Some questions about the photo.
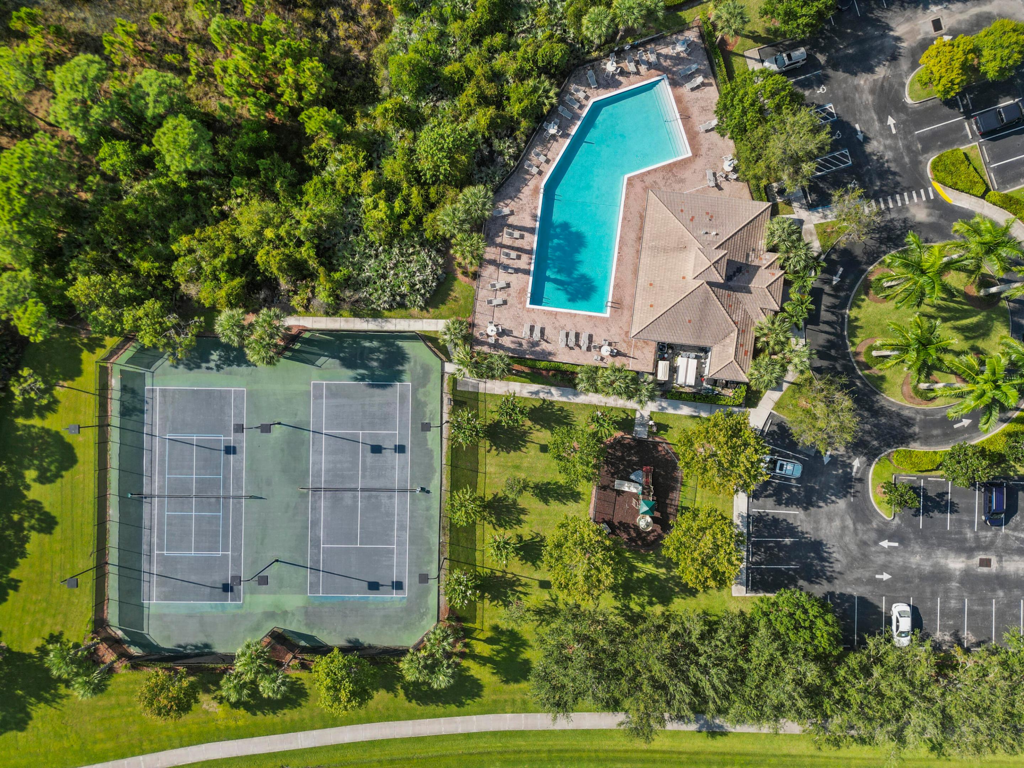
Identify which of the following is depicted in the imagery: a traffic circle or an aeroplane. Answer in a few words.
traffic circle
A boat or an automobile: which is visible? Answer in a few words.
automobile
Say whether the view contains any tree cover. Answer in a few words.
Yes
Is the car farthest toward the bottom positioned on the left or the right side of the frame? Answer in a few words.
right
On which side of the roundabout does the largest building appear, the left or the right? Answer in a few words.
on its left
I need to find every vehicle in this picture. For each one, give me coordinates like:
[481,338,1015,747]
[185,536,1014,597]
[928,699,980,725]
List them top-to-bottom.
[762,45,808,70]
[971,104,1024,136]
[763,455,802,477]
[980,481,1007,526]
[889,602,912,646]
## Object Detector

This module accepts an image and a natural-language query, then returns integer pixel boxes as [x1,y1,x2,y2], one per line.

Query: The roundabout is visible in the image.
[846,243,1012,408]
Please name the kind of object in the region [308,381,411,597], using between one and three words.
tennis court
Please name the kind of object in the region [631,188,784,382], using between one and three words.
building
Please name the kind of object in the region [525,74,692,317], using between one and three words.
swimming pool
